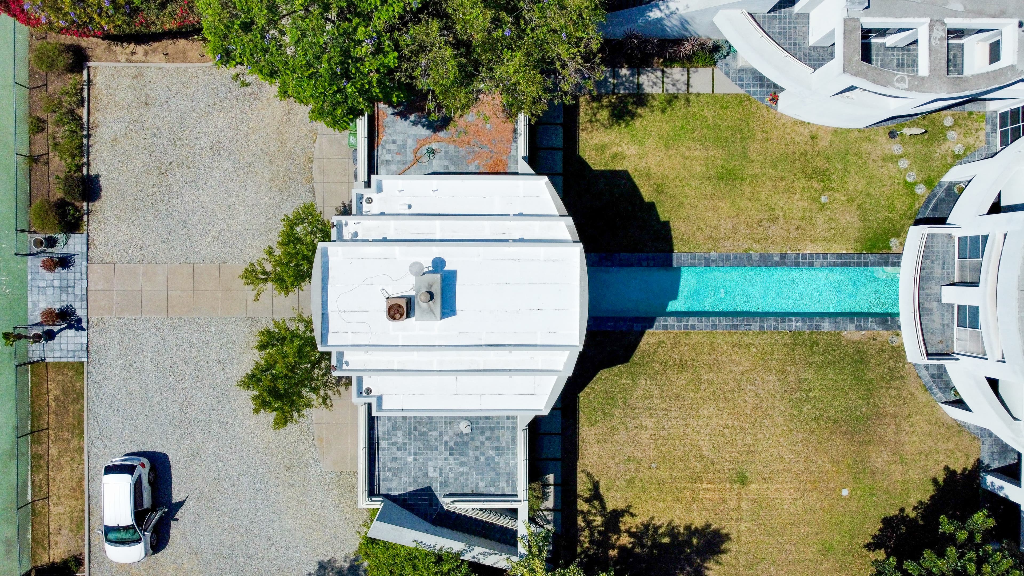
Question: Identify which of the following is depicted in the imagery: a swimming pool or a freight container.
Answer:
swimming pool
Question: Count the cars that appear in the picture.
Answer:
1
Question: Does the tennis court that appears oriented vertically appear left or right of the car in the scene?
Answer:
left of it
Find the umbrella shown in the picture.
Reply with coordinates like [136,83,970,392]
[888,127,926,139]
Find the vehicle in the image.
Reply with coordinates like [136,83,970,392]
[98,454,167,564]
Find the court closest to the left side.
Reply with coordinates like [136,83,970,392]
[0,0,31,576]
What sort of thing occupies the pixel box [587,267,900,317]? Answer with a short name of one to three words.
swimming pool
